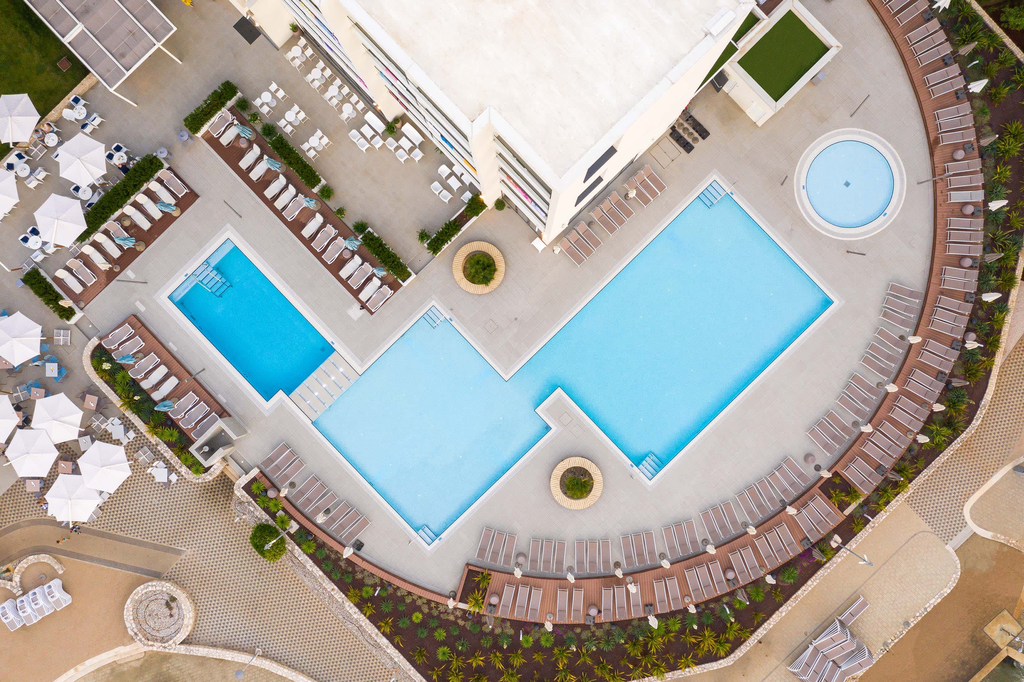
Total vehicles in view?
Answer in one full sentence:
The photo contains no vehicles.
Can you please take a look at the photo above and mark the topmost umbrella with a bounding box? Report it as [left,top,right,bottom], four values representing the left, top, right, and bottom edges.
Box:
[922,0,952,22]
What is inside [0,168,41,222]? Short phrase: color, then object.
white umbrella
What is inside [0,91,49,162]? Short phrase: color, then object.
white umbrella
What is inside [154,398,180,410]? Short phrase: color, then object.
blue umbrella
